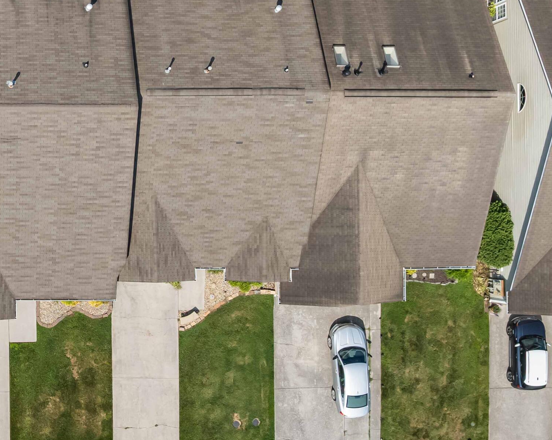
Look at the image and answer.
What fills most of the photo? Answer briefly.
buildings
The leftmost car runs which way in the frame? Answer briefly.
up and down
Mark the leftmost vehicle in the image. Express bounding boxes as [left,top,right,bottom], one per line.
[331,325,380,420]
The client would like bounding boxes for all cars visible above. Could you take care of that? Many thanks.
[331,325,380,420]
[500,319,551,395]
